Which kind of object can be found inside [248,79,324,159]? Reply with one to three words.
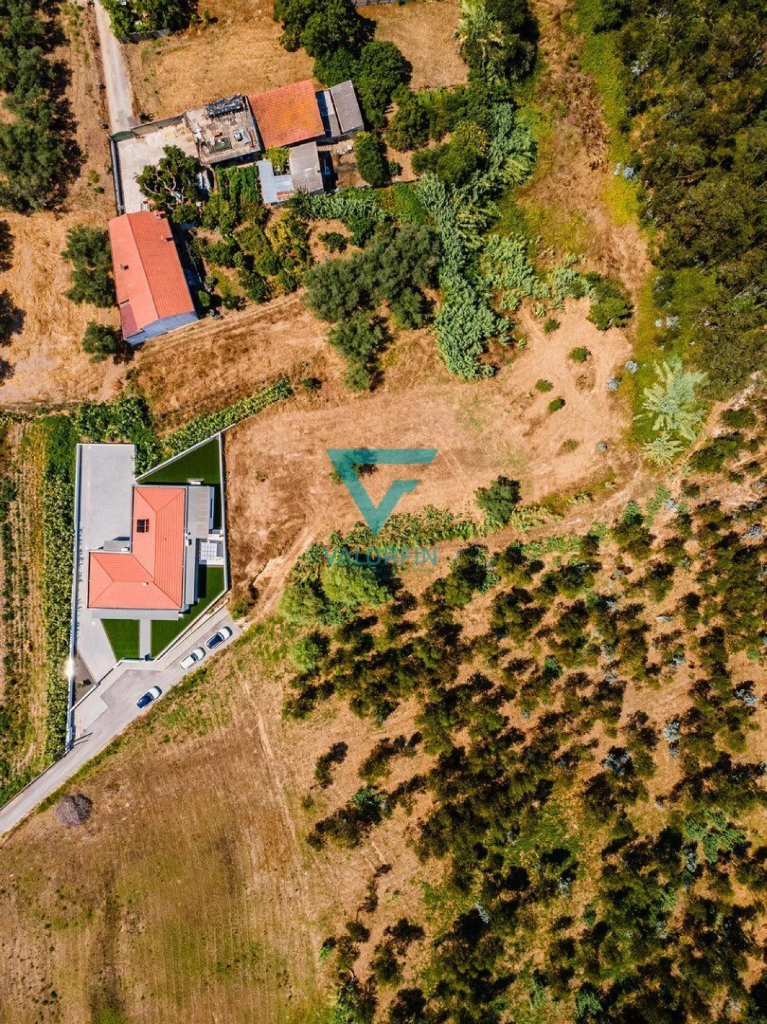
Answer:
building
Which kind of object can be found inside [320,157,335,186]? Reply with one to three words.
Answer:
car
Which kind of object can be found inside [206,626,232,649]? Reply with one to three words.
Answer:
car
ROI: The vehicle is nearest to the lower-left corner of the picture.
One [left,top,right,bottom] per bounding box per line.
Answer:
[135,686,163,708]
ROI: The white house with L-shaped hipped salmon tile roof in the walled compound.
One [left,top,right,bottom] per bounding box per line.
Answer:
[87,484,214,620]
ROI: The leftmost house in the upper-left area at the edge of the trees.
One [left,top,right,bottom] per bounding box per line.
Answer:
[109,212,201,337]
